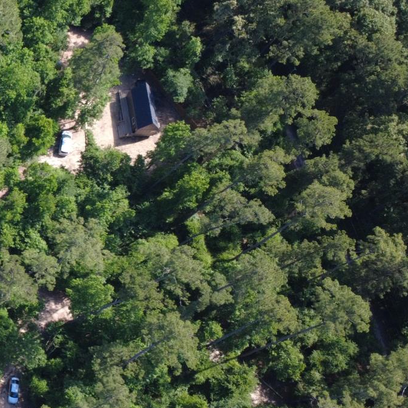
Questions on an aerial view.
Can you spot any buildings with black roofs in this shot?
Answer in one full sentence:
Yes, a building with a black roof appears in the view.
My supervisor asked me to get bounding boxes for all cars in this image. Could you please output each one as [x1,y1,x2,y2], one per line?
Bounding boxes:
[57,130,73,157]
[6,374,21,407]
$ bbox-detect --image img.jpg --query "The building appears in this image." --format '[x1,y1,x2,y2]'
[111,82,160,135]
